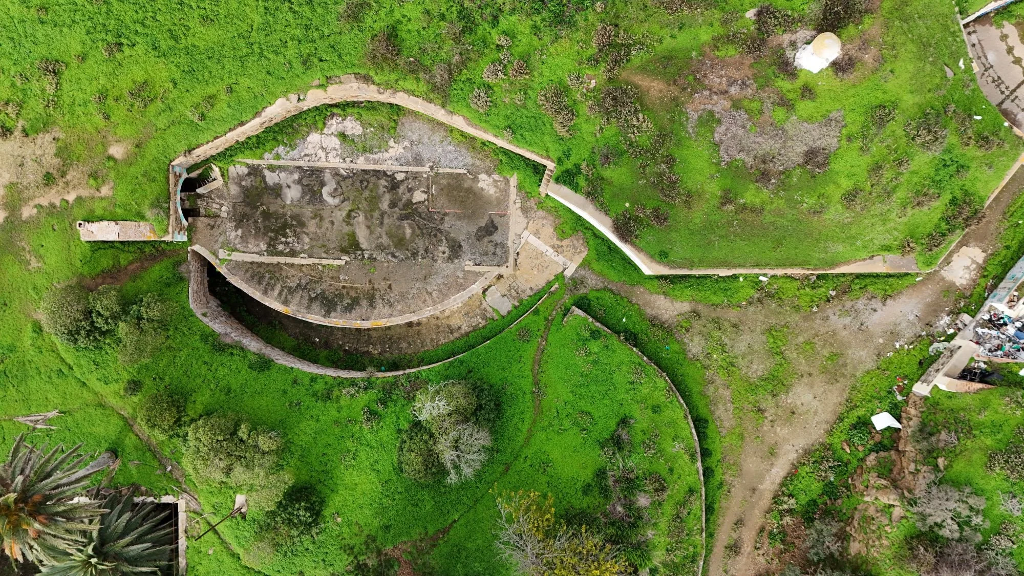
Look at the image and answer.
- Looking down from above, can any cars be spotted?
No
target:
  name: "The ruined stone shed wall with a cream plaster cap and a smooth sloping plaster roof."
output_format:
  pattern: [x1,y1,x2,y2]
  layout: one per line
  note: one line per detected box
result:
[895,337,979,395]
